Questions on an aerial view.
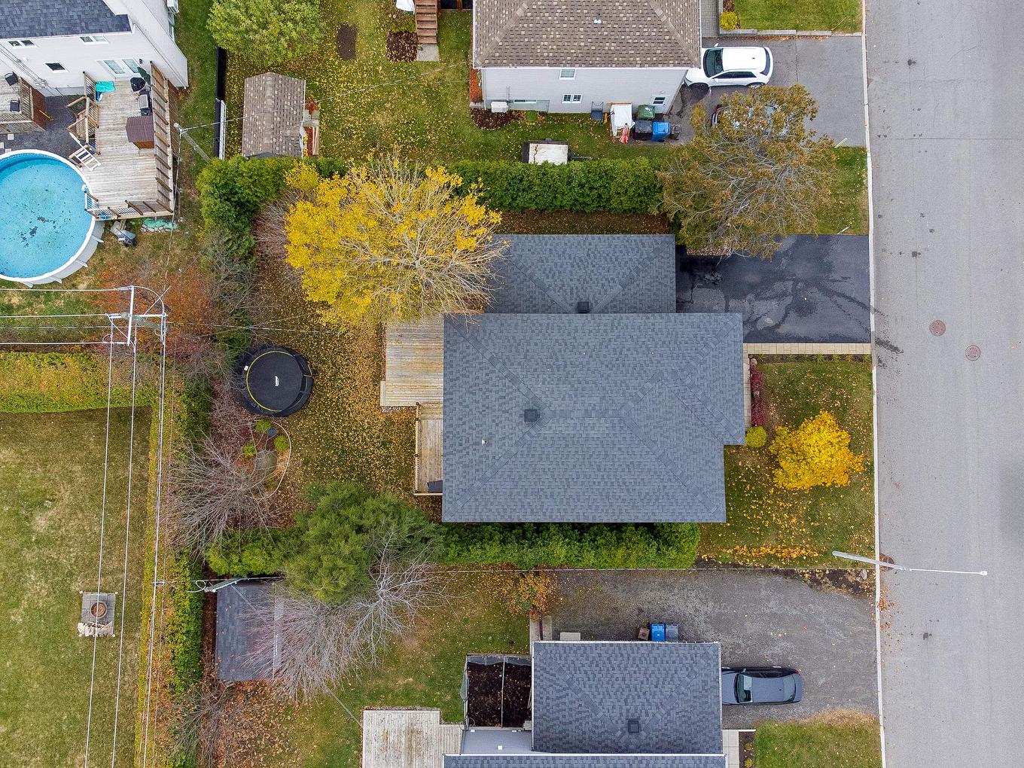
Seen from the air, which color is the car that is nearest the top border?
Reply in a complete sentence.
The car that is nearest the top border looks white in the image.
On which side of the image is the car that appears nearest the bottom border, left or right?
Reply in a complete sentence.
The car that appears nearest the bottom border appears in the right half of the scene.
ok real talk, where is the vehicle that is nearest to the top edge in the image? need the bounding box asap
[688,42,771,86]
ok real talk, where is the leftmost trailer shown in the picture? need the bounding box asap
[525,135,595,166]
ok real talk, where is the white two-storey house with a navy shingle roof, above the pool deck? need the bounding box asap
[0,0,186,96]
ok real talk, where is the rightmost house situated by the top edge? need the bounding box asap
[473,0,704,114]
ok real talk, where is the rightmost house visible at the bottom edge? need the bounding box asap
[443,637,727,768]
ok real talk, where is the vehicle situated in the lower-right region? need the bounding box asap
[721,665,805,710]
